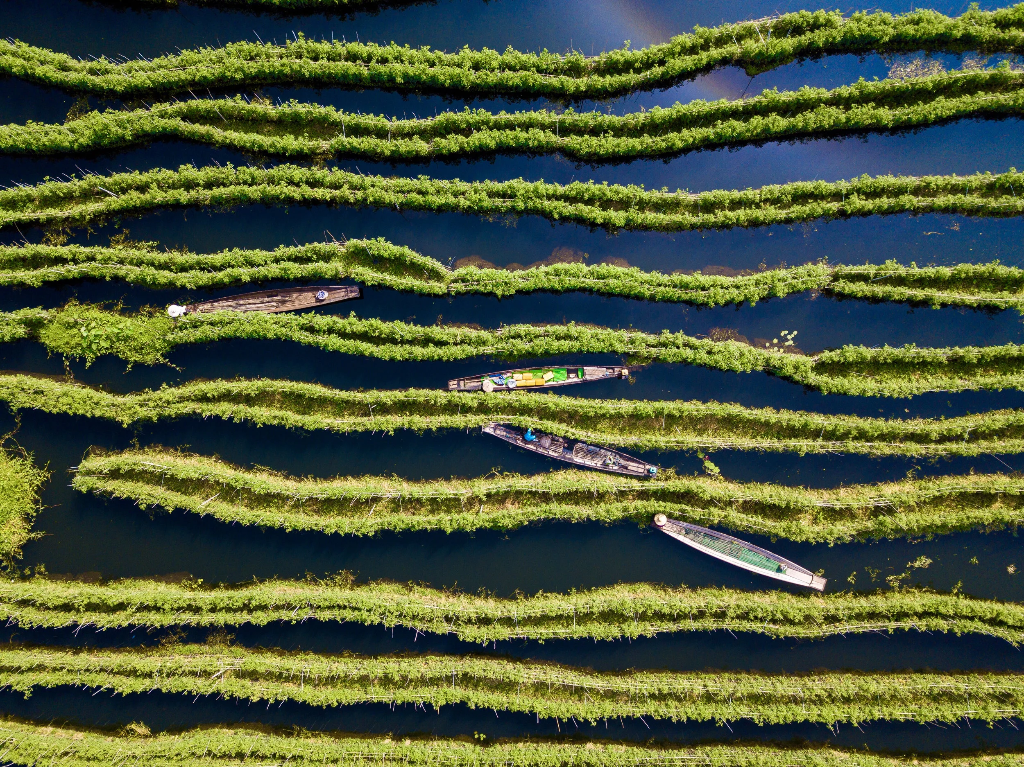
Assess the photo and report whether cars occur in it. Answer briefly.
No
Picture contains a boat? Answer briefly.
Yes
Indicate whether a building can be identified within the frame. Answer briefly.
No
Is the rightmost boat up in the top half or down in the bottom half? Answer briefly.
bottom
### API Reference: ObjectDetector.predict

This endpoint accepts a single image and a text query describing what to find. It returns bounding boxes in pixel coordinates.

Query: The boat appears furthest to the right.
[655,519,830,593]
